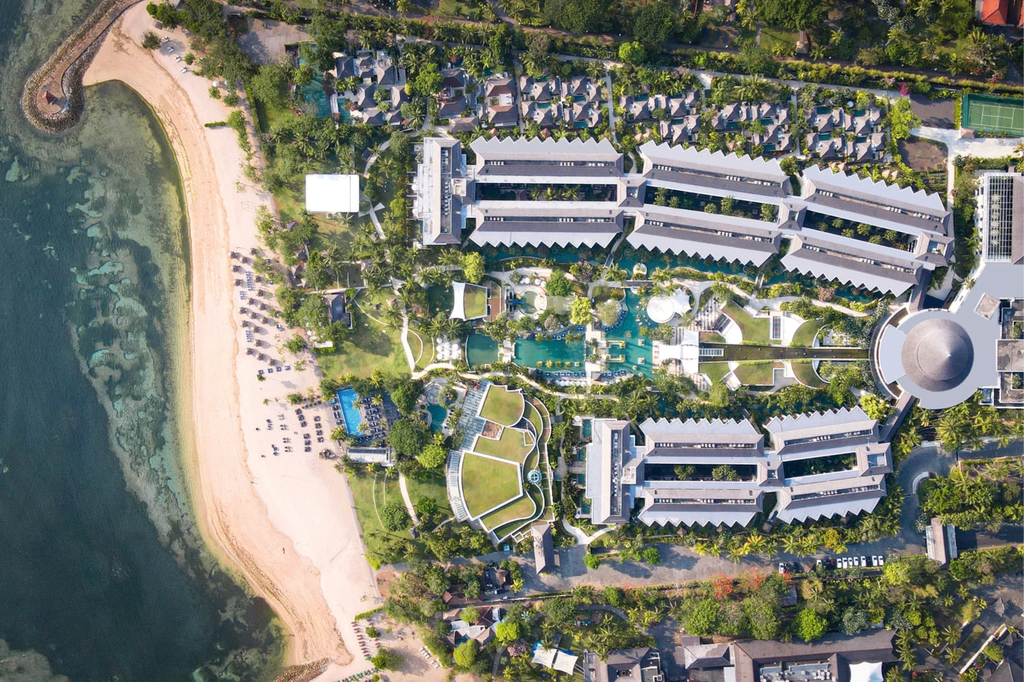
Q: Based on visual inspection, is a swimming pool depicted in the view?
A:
Yes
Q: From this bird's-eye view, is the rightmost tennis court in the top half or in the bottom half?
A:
top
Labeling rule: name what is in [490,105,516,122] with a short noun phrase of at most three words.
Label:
house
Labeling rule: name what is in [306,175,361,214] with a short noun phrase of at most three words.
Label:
tent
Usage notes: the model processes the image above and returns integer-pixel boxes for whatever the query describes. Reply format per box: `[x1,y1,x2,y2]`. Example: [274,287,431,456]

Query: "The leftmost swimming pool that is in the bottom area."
[336,387,364,438]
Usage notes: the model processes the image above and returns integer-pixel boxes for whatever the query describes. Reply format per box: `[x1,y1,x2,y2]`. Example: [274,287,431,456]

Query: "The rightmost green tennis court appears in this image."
[962,92,1024,140]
